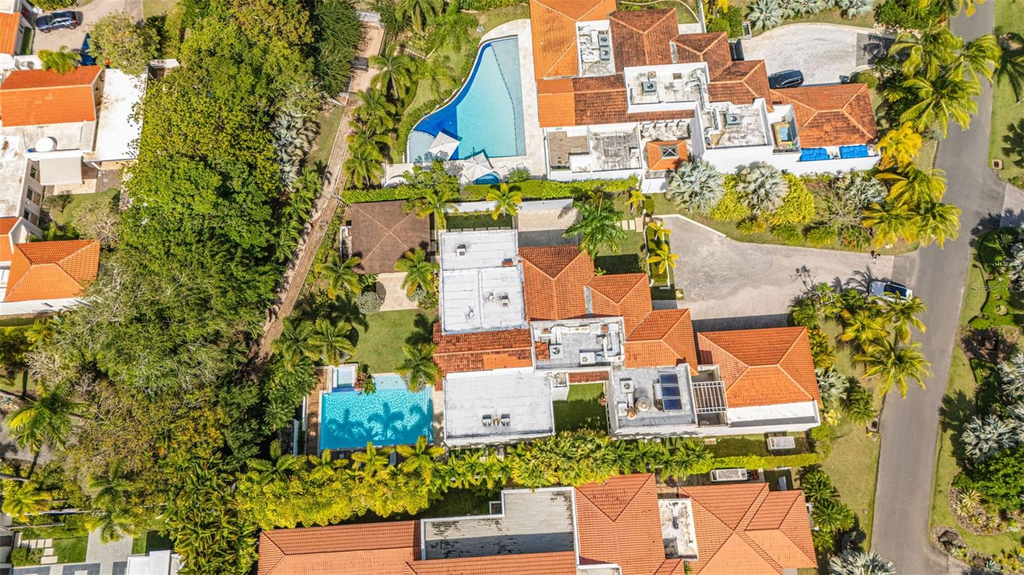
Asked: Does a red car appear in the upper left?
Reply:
No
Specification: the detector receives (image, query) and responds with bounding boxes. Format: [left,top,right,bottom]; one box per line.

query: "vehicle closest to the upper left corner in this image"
[37,10,77,31]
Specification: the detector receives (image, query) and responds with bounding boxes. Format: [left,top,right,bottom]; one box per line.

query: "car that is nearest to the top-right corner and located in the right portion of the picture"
[767,69,807,89]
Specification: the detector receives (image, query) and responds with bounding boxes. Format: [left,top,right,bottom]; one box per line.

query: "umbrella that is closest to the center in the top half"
[459,152,495,182]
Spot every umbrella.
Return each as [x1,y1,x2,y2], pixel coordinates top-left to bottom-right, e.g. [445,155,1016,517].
[459,152,495,182]
[426,135,461,163]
